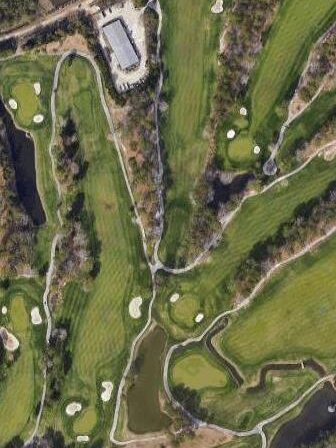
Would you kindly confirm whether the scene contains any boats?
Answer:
No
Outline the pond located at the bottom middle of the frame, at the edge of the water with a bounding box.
[126,324,172,433]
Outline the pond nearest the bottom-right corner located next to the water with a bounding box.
[270,380,336,448]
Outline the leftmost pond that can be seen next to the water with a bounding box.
[0,102,47,226]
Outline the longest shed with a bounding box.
[103,20,139,68]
